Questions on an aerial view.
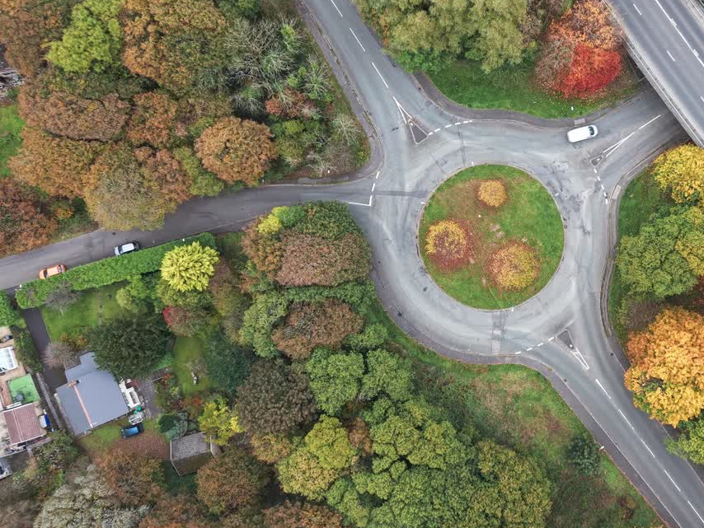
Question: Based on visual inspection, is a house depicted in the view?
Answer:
Yes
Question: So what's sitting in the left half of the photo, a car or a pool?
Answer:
car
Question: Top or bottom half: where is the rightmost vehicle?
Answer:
top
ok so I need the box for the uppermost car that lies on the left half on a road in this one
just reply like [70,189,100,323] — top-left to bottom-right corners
[113,240,141,256]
